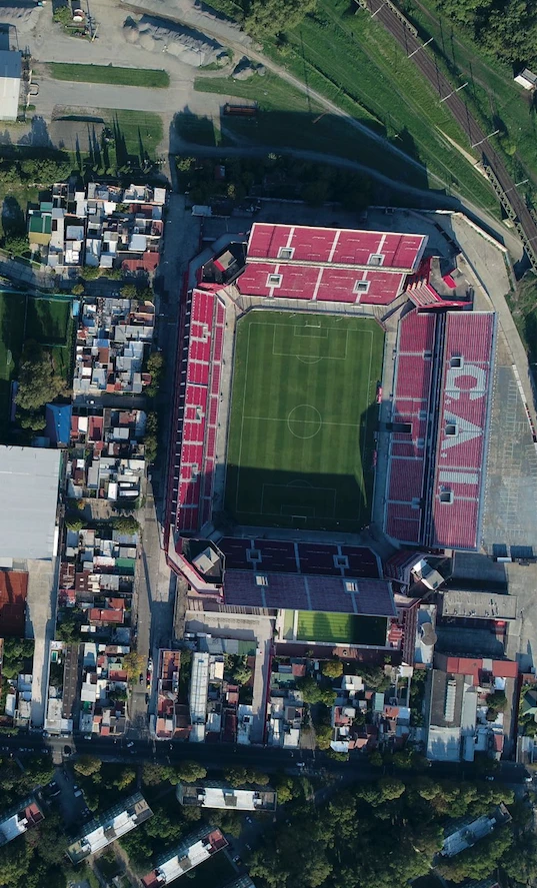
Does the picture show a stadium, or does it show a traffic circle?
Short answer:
stadium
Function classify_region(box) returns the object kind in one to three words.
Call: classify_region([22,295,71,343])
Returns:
soccer field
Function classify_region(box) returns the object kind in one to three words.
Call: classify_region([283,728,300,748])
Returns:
house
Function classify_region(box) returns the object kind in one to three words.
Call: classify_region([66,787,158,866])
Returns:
building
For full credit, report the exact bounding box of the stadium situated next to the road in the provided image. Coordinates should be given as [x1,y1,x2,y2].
[164,222,496,629]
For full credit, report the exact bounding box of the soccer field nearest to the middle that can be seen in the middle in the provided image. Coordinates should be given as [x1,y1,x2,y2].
[225,310,383,532]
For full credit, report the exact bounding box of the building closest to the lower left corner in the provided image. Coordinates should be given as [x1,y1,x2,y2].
[0,790,52,846]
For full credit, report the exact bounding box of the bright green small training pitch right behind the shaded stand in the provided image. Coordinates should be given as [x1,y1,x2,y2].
[277,610,389,652]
